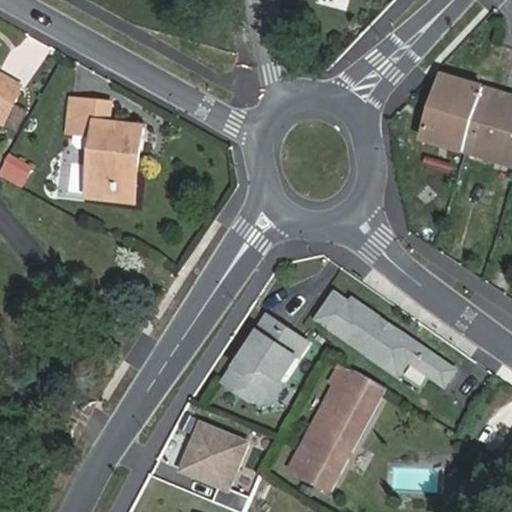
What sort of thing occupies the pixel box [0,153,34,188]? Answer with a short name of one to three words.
shed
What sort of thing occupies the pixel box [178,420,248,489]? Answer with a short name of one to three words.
house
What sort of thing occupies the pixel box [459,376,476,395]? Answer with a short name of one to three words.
car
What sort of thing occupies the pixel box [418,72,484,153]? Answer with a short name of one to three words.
house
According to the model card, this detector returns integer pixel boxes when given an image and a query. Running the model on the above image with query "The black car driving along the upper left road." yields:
[30,8,52,25]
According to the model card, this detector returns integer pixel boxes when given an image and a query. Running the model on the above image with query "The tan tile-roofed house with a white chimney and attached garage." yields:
[64,96,148,206]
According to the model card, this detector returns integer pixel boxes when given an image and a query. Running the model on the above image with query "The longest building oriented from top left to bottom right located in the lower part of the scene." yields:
[313,290,457,389]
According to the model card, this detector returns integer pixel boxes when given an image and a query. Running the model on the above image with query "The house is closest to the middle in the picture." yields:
[220,312,312,406]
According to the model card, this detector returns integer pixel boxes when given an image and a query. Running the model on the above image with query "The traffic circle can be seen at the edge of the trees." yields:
[242,74,386,248]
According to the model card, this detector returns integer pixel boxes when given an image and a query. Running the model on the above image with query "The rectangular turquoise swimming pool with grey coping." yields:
[388,464,444,497]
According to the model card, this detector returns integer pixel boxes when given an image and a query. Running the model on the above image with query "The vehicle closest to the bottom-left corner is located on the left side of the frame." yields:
[192,482,212,497]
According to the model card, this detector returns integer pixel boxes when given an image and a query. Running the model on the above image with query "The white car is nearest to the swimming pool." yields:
[477,422,495,444]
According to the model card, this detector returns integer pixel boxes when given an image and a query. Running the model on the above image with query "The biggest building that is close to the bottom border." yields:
[288,365,384,492]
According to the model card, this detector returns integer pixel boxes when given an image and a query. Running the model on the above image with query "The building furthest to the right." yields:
[464,86,512,166]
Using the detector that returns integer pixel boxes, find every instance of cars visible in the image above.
[30,8,52,25]
[477,422,495,444]
[192,482,212,497]
[459,376,476,395]
[286,296,306,315]
[266,288,286,306]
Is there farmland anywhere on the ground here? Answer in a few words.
No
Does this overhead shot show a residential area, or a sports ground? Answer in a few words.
residential area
